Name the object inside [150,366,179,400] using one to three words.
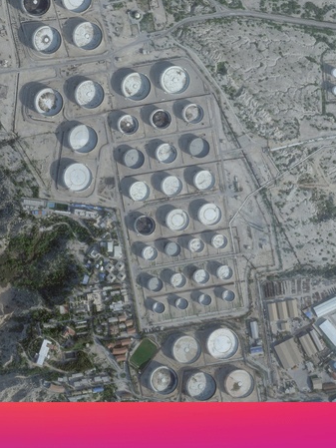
storage tank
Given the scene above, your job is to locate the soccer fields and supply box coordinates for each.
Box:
[128,335,160,370]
